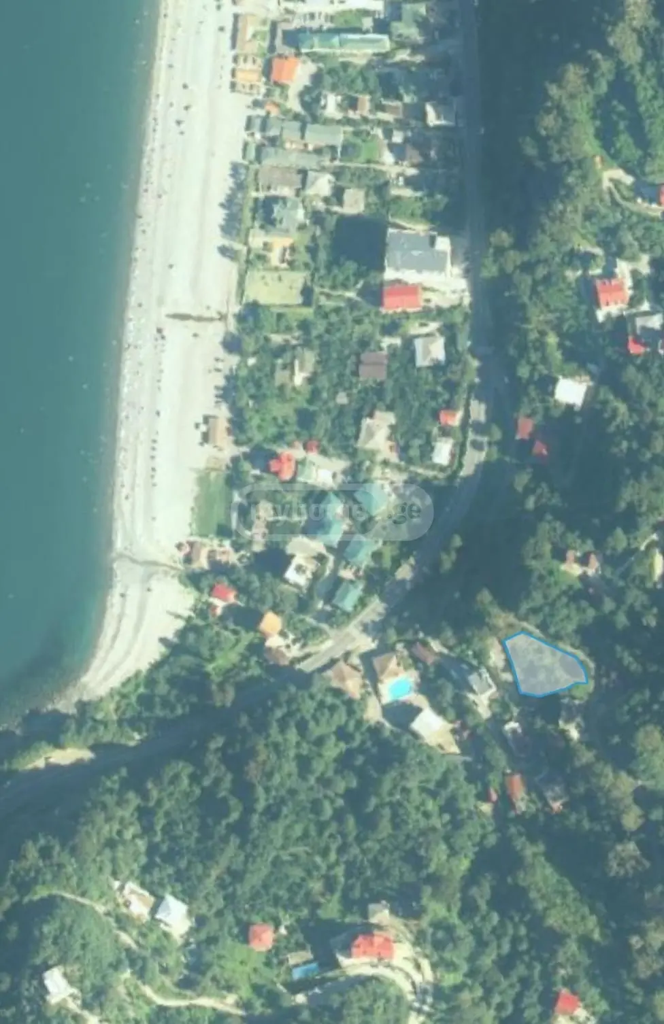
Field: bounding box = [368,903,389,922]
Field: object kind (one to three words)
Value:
shed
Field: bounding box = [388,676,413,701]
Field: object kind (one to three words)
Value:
swimming pool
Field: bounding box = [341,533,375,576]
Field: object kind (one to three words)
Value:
house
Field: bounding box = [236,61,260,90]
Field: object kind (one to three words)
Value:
building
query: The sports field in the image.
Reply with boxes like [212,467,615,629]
[195,471,231,536]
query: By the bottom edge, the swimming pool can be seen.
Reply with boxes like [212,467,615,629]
[290,960,320,980]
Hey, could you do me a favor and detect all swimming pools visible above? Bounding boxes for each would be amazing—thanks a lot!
[388,676,413,701]
[290,960,320,980]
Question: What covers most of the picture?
trees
